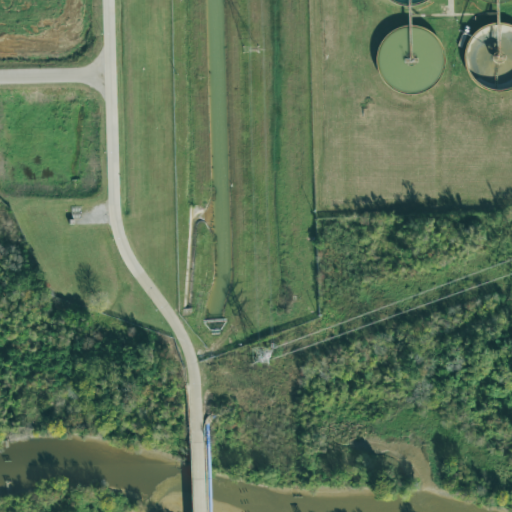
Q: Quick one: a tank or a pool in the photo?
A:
tank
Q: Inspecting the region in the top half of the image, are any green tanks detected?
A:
Yes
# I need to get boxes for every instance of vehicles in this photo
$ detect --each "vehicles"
[458,30,484,47]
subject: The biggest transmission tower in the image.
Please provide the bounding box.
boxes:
[252,347,272,362]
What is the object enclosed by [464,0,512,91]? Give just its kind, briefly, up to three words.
storage tank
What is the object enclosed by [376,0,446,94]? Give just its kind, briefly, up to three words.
storage tank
